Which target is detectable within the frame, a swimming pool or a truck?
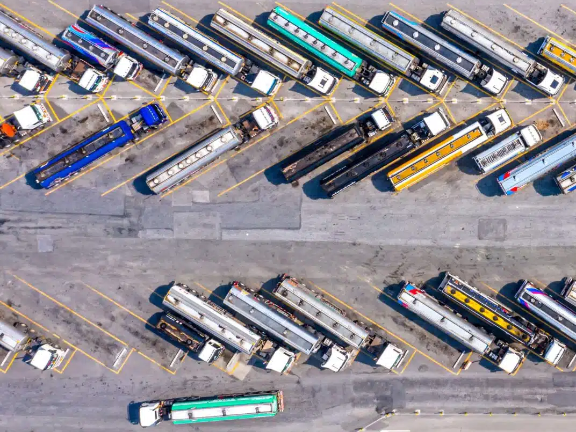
truck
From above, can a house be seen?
No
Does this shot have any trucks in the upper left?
Yes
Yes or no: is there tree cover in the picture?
No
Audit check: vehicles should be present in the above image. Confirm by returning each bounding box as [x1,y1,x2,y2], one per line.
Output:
[323,107,452,197]
[140,388,288,426]
[0,304,70,371]
[0,3,114,91]
[399,276,524,374]
[441,271,568,364]
[213,10,344,95]
[388,105,517,189]
[158,306,230,362]
[495,132,576,193]
[442,9,566,97]
[269,6,398,97]
[226,278,357,373]
[165,279,302,374]
[537,37,576,75]
[88,5,220,90]
[283,104,399,182]
[63,25,148,82]
[150,8,285,97]
[147,103,284,192]
[384,10,510,97]
[472,119,544,173]
[320,6,450,92]
[549,162,576,193]
[0,41,59,92]
[35,101,173,187]
[0,101,57,145]
[276,272,407,370]
[515,277,576,339]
